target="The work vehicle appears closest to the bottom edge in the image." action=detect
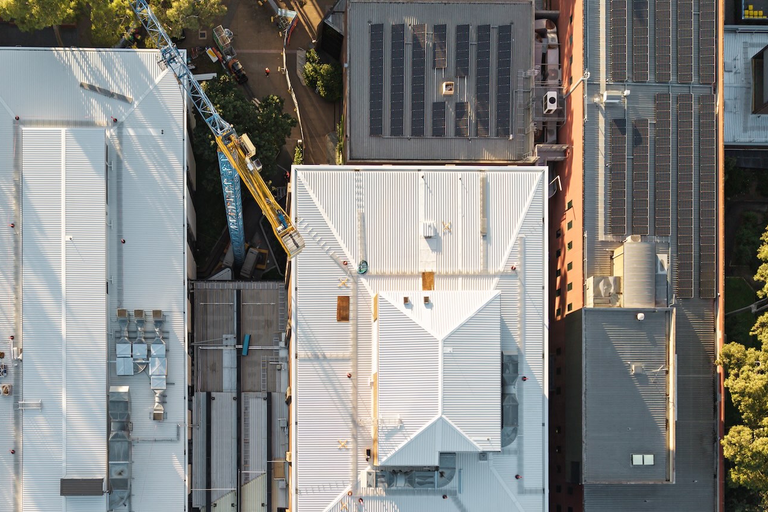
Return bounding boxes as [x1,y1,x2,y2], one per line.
[217,41,252,88]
